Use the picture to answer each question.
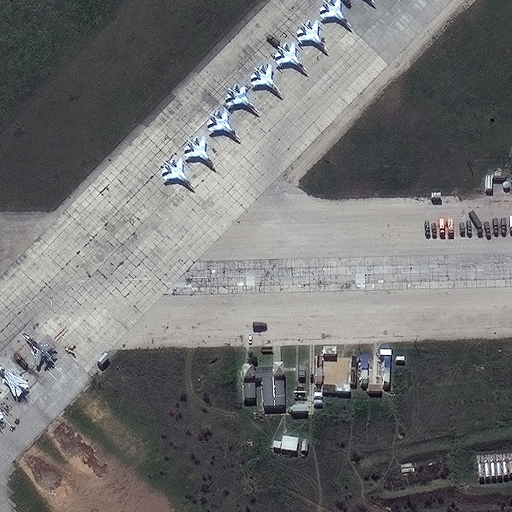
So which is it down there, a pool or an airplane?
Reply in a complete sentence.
There is an airplane in the scene.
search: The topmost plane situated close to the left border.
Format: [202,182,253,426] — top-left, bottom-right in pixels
[25,336,60,371]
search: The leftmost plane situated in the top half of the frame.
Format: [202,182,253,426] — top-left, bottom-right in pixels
[160,157,195,191]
